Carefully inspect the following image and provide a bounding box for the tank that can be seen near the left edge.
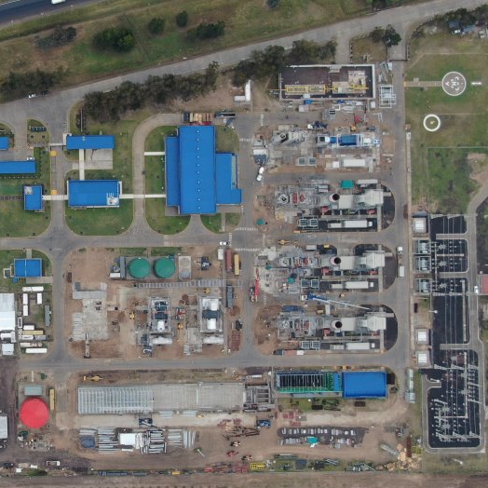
[19,396,48,428]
